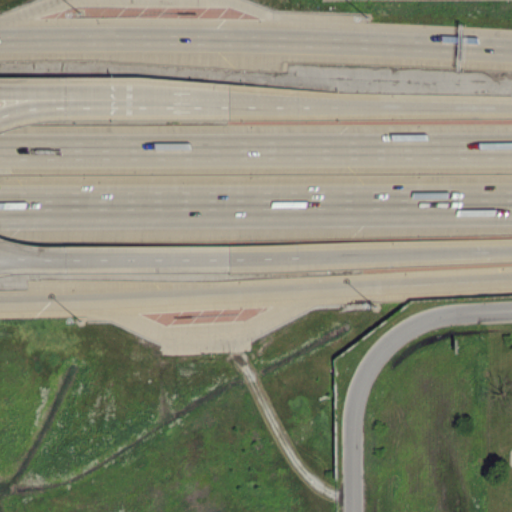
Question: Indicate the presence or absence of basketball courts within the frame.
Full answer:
No, no basketball court can be seen from above.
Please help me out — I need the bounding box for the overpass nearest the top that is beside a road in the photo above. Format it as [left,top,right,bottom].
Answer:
[0,76,512,134]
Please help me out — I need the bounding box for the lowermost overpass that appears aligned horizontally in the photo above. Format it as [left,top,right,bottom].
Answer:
[0,237,512,277]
